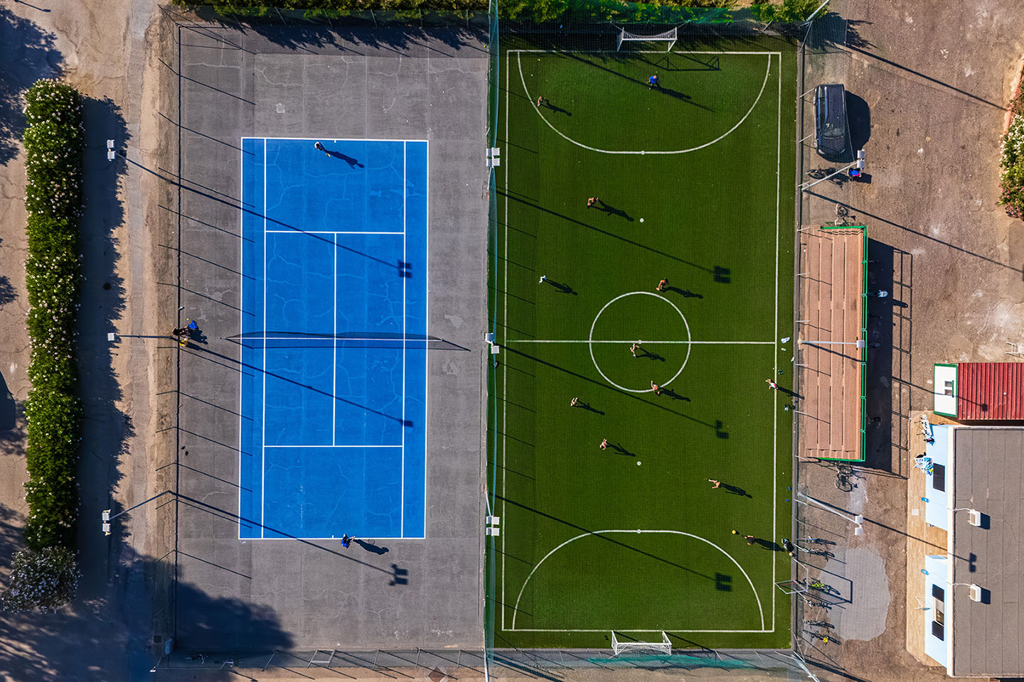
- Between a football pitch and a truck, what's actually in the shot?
football pitch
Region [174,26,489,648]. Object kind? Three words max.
tennis court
